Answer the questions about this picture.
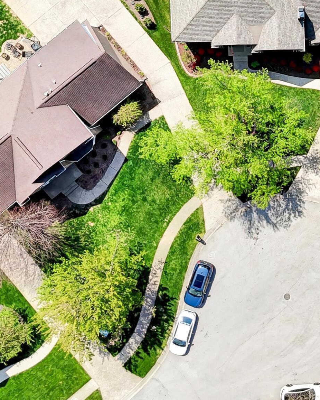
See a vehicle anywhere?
Yes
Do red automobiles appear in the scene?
No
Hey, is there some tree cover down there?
Yes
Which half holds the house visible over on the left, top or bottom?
top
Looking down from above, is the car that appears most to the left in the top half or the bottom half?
bottom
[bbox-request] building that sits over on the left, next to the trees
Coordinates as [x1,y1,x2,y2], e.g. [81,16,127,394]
[0,19,144,213]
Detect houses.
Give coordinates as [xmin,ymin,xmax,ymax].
[170,0,320,59]
[0,19,144,213]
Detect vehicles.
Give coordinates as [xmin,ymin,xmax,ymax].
[281,384,320,400]
[169,309,197,358]
[184,261,213,311]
